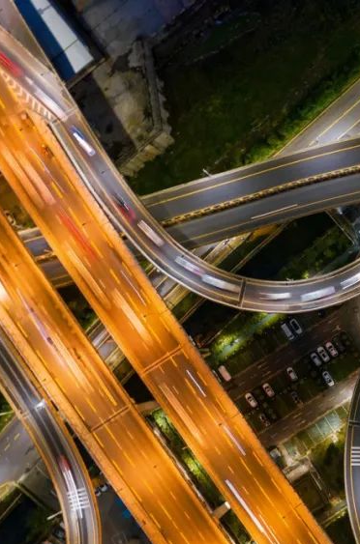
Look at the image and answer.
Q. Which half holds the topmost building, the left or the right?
left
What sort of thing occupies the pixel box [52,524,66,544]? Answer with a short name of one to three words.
car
